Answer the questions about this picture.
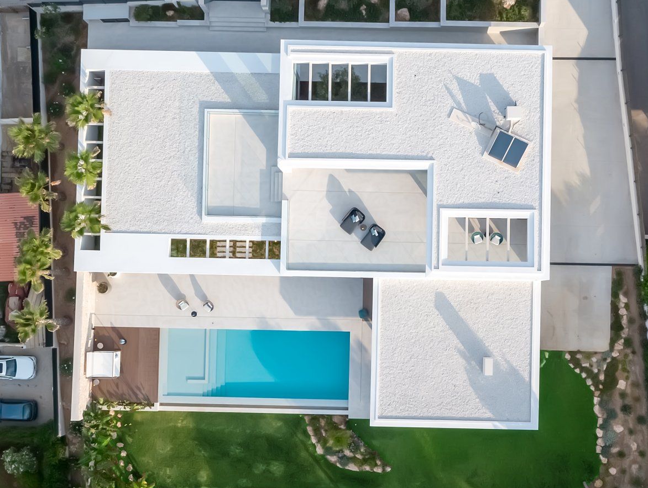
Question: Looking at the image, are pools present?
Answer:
Yes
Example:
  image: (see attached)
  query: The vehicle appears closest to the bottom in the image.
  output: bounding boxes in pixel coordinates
[0,397,39,424]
